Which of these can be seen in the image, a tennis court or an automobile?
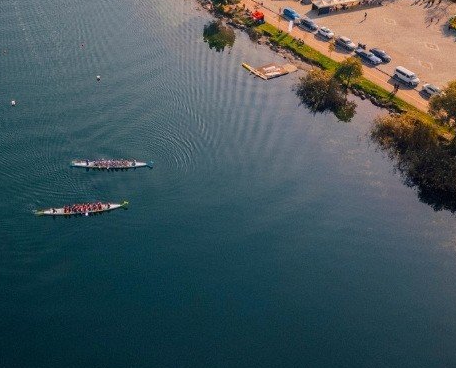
automobile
